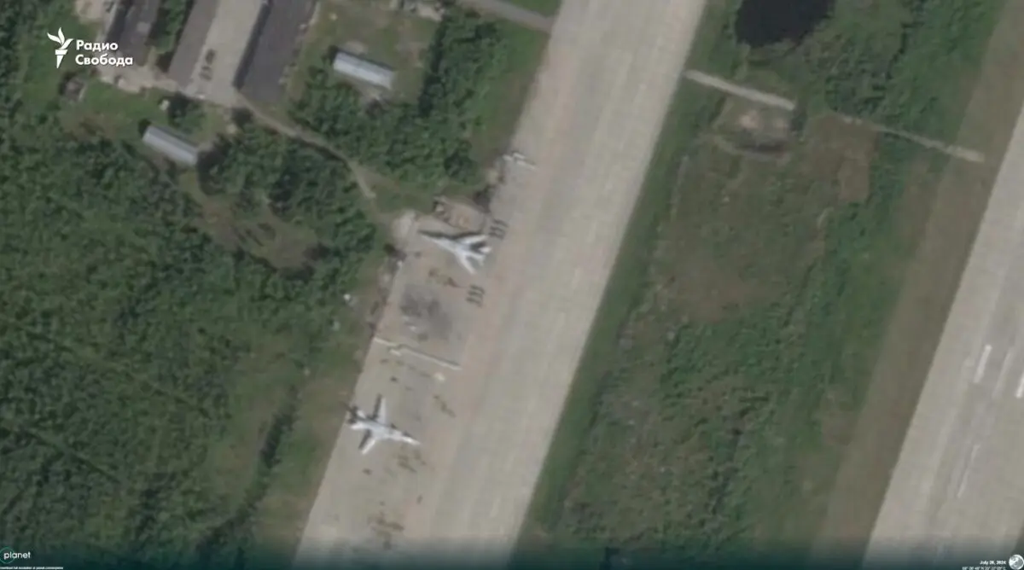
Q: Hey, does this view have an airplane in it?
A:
Yes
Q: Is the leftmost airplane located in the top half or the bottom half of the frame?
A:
bottom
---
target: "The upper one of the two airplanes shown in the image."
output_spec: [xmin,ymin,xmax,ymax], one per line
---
[421,233,492,273]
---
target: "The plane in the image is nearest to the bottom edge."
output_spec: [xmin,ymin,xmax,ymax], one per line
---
[349,399,420,454]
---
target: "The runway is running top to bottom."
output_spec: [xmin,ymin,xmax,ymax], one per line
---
[858,106,1024,570]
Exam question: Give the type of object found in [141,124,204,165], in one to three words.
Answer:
shed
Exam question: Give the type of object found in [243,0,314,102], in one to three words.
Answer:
building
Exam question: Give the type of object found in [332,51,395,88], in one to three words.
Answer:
shed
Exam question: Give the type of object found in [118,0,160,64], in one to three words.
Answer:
building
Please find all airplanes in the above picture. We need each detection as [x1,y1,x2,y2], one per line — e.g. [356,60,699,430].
[349,399,420,454]
[421,233,492,273]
